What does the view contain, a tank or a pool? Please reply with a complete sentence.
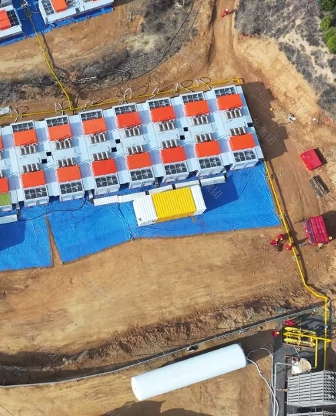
I can see a tank in this picture.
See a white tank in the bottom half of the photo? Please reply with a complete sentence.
Yes, looking in the bottom half of the photo, one can make out a white tank.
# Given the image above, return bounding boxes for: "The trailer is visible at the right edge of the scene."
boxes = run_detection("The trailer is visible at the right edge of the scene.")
[290,215,333,249]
